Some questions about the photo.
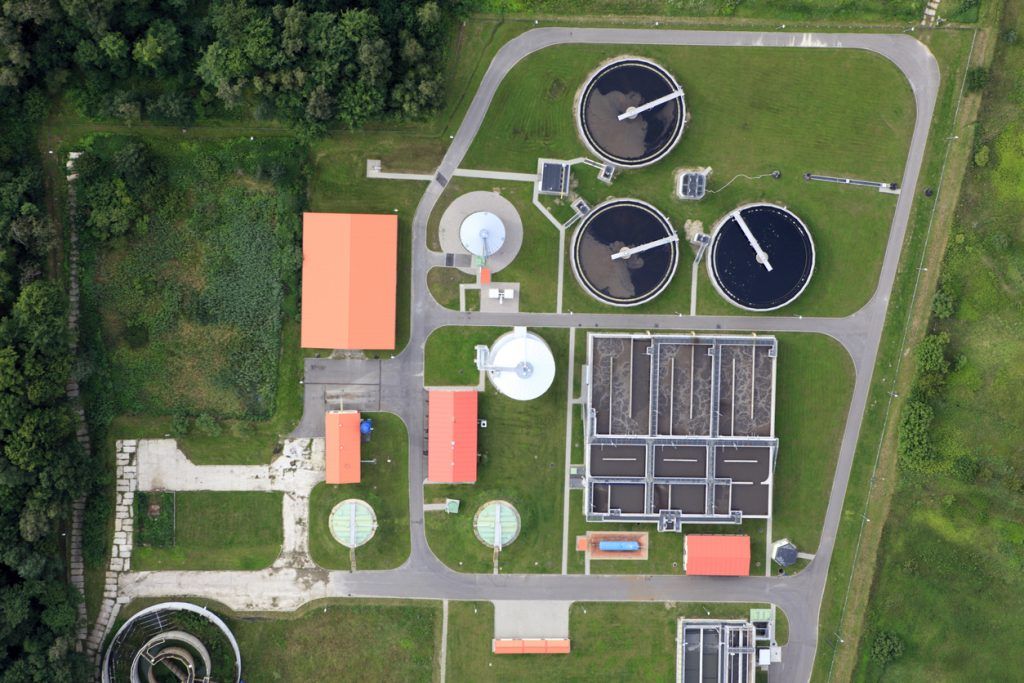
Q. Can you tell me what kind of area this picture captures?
industrial area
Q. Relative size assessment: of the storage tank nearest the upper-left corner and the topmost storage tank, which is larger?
the topmost storage tank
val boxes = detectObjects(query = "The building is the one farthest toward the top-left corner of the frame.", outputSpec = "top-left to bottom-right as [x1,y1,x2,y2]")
[301,212,399,350]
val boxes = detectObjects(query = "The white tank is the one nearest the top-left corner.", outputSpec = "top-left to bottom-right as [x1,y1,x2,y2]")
[459,211,505,260]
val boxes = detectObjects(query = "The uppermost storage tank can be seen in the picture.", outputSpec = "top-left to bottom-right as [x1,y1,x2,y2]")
[577,56,687,166]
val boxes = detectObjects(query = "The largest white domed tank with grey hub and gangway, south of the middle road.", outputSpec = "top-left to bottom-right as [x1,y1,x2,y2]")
[488,327,556,400]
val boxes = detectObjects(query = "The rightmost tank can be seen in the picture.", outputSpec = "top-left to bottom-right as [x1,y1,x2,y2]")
[707,202,817,311]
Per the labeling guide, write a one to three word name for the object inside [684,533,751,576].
house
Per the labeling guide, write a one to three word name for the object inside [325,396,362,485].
building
